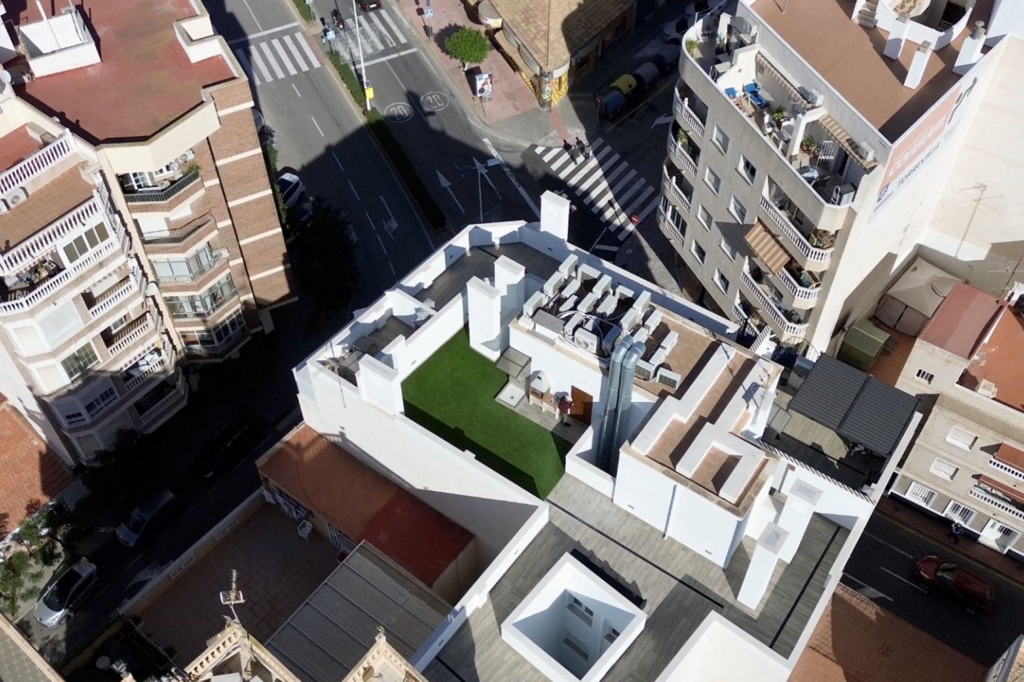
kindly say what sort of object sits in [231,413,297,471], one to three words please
car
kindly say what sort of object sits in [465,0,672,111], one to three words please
building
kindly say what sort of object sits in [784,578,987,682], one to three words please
building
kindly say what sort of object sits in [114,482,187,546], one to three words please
car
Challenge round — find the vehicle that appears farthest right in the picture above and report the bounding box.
[913,554,1006,616]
